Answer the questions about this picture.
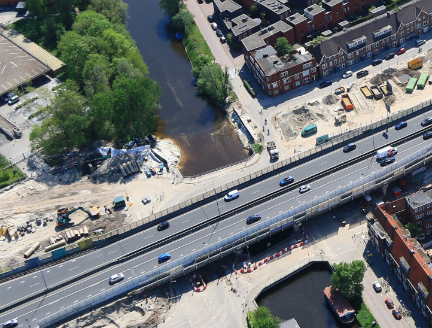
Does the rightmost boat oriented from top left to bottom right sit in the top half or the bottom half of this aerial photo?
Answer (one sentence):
Seen from above, the rightmost boat oriented from top left to bottom right lies in the bottom half of the view.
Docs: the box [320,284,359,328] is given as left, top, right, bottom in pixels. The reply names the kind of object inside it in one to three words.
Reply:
boat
